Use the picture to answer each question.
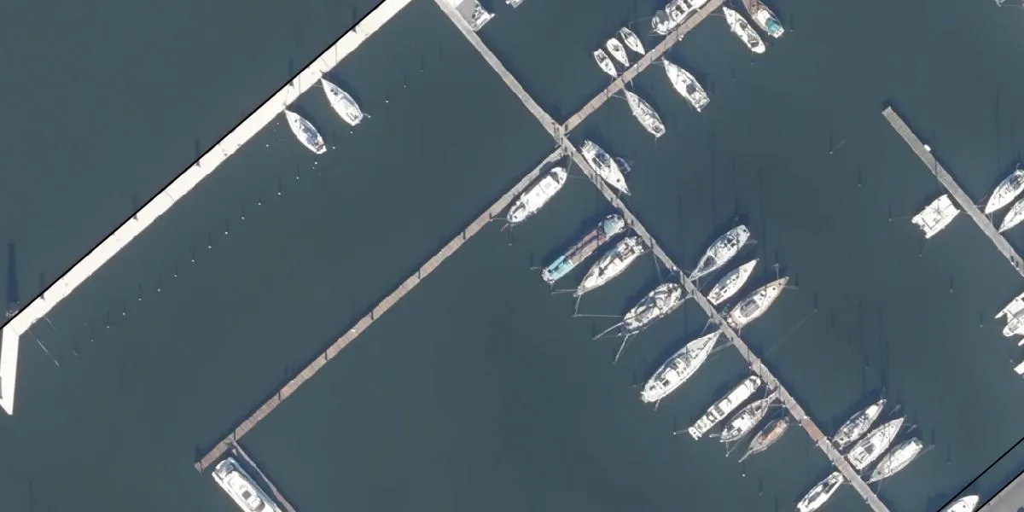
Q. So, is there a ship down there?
Yes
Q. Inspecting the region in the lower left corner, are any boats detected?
Yes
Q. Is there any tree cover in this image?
No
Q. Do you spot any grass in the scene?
No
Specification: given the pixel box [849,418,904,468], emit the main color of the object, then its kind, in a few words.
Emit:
white boat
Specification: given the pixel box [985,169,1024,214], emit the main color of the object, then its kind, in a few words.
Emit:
white boat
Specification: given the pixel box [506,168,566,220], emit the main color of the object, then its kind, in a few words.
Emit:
white vessel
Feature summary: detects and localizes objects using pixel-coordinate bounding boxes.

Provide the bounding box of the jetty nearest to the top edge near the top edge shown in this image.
[562,0,721,133]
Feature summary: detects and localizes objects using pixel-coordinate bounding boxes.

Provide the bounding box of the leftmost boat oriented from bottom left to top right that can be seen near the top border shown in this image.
[651,0,704,34]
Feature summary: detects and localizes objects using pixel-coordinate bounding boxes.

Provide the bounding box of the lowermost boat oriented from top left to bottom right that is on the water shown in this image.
[212,456,279,512]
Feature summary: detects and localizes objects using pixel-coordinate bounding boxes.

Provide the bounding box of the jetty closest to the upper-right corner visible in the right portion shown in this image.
[883,106,1024,277]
